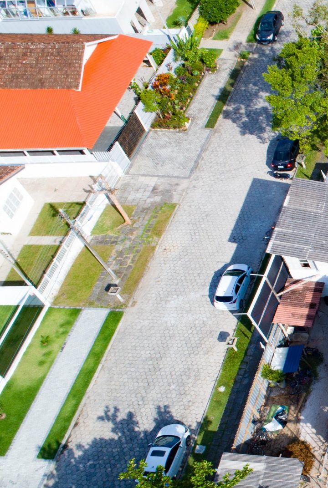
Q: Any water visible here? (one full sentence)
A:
No, the picture contains no water.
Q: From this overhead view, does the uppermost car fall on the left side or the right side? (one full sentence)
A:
It is on the right.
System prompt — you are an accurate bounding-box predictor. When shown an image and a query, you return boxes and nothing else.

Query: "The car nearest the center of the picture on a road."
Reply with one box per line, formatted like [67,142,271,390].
[205,256,254,312]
